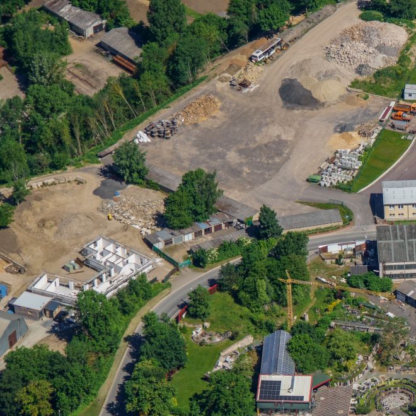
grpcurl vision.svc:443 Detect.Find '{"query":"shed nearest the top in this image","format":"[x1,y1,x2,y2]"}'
[41,0,105,38]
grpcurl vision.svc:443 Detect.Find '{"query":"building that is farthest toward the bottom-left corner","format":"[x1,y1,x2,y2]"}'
[0,310,31,357]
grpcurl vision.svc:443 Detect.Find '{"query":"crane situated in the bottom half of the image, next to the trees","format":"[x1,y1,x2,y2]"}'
[273,268,394,330]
